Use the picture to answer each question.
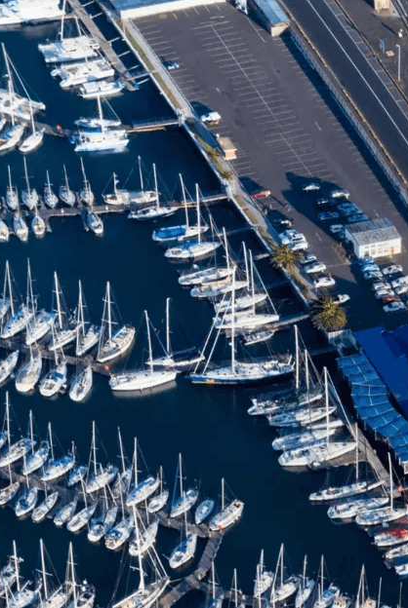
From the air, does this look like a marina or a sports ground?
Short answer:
marina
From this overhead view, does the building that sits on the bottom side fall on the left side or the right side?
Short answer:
right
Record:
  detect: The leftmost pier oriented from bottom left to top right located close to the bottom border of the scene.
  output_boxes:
[143,525,228,608]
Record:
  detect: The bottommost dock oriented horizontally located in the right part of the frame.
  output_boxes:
[192,571,313,608]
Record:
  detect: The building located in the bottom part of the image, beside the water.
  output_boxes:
[329,321,408,481]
